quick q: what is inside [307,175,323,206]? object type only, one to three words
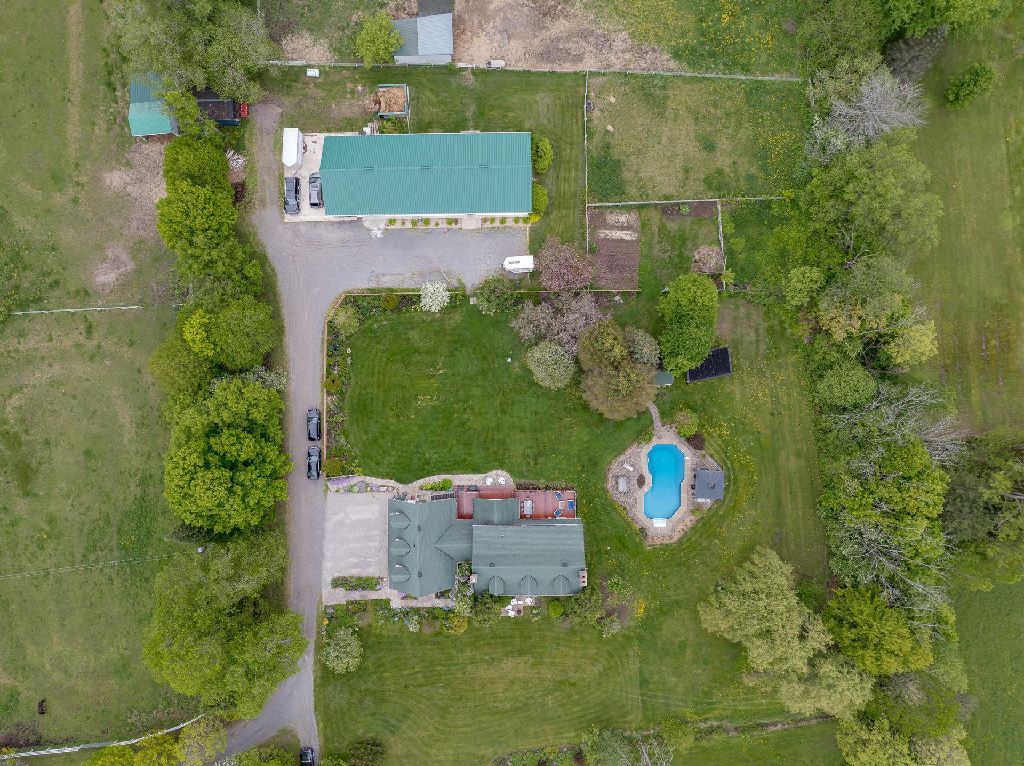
car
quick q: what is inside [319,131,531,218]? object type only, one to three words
barn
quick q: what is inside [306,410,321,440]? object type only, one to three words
car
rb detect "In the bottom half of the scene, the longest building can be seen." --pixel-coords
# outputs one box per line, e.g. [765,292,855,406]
[387,498,592,597]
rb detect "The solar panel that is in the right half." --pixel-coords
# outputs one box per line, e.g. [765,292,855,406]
[685,347,732,382]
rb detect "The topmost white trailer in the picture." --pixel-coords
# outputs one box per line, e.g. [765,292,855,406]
[283,128,304,179]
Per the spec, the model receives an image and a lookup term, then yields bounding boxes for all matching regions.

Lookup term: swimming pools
[643,444,688,527]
